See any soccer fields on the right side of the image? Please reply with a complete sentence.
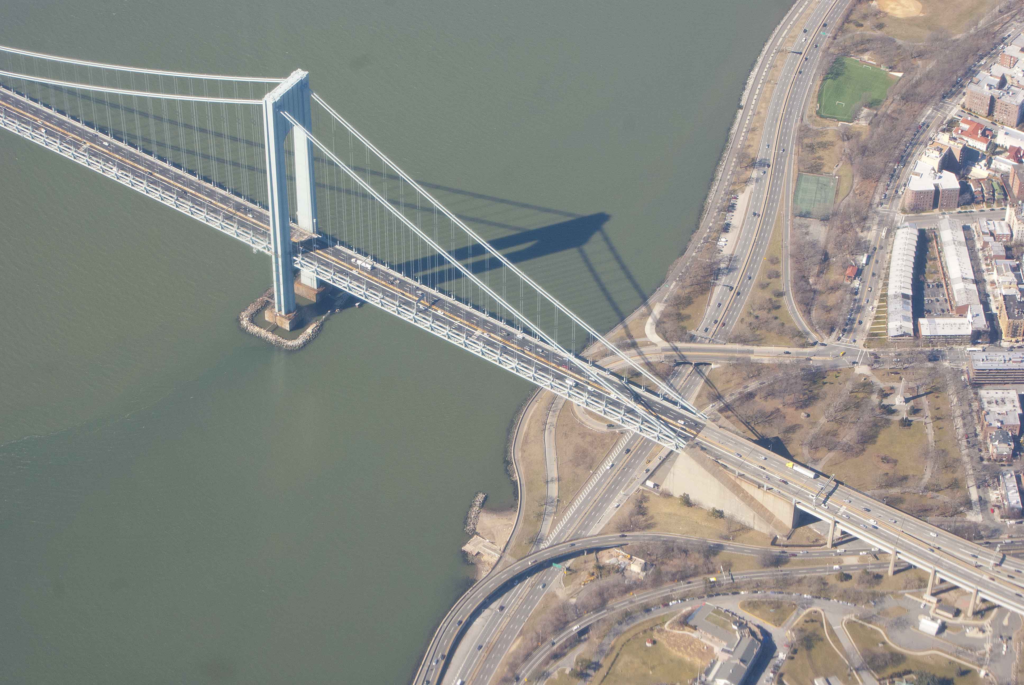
Yes, a soccer field shows up on the right side of the image.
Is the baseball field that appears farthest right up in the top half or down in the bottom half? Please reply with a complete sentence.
It is in the top half that the baseball field that appears farthest right appears.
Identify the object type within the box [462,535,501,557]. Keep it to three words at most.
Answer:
pier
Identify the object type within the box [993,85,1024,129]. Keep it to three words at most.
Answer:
building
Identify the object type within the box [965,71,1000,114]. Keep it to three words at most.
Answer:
building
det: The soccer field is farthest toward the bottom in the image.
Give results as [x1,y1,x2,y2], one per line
[816,56,897,122]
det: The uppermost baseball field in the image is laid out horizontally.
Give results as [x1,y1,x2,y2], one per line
[871,0,996,30]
